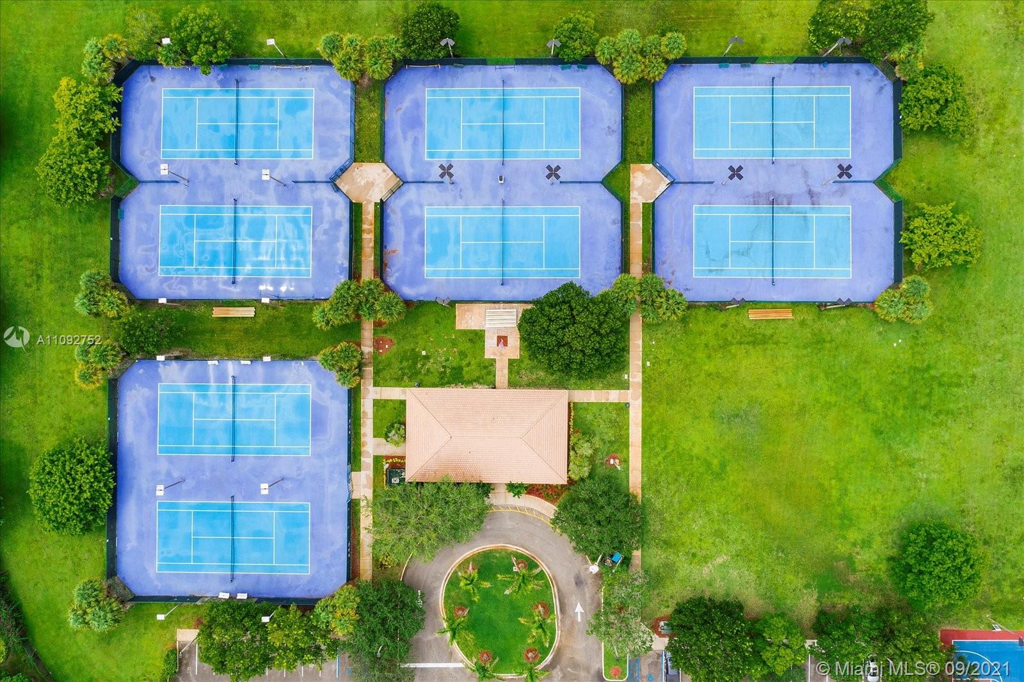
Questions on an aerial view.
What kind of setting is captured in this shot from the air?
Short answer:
sports ground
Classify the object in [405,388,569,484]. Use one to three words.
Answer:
building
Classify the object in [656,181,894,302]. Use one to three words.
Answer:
tennis court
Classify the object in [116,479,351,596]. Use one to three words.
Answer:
tennis court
